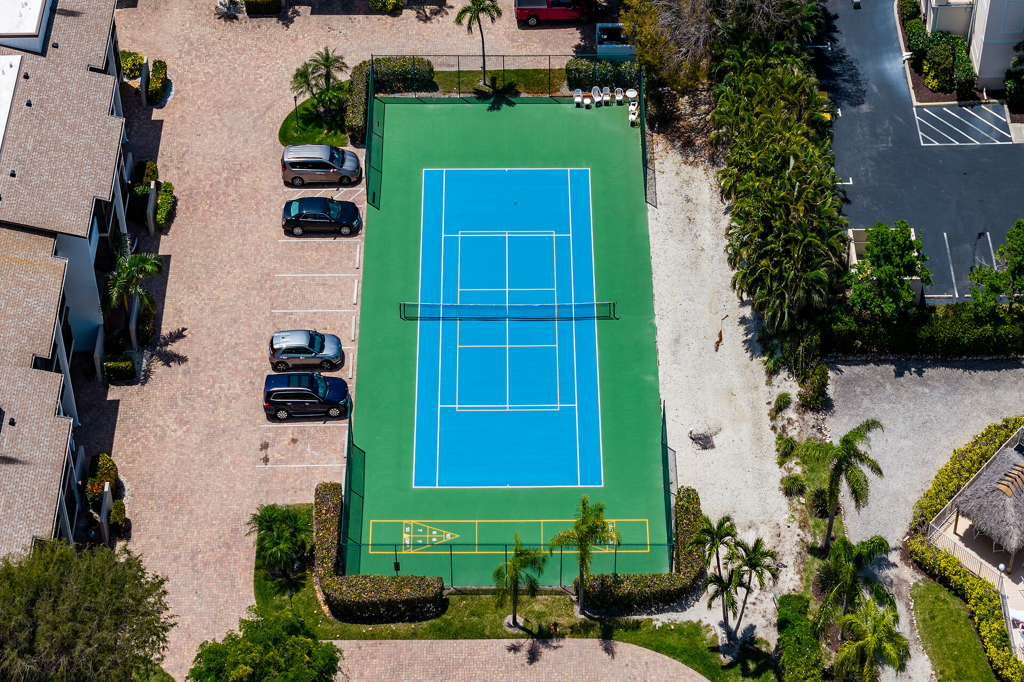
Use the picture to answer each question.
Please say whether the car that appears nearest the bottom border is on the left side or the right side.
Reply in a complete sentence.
The car that appears nearest the bottom border appears in the left half of the scene.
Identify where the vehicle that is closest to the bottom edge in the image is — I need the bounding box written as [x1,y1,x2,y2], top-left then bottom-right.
[264,371,349,421]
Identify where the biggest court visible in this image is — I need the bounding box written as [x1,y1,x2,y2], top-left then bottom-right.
[347,94,671,588]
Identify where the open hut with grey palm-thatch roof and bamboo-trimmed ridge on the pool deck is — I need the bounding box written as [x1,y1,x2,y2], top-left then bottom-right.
[949,450,1024,576]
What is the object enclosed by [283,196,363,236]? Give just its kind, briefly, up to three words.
car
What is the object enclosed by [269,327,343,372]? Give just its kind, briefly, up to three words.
car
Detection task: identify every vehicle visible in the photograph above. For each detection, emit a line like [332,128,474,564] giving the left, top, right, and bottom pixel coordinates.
[283,196,363,236]
[282,141,362,187]
[514,0,597,28]
[264,371,349,421]
[269,327,343,372]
